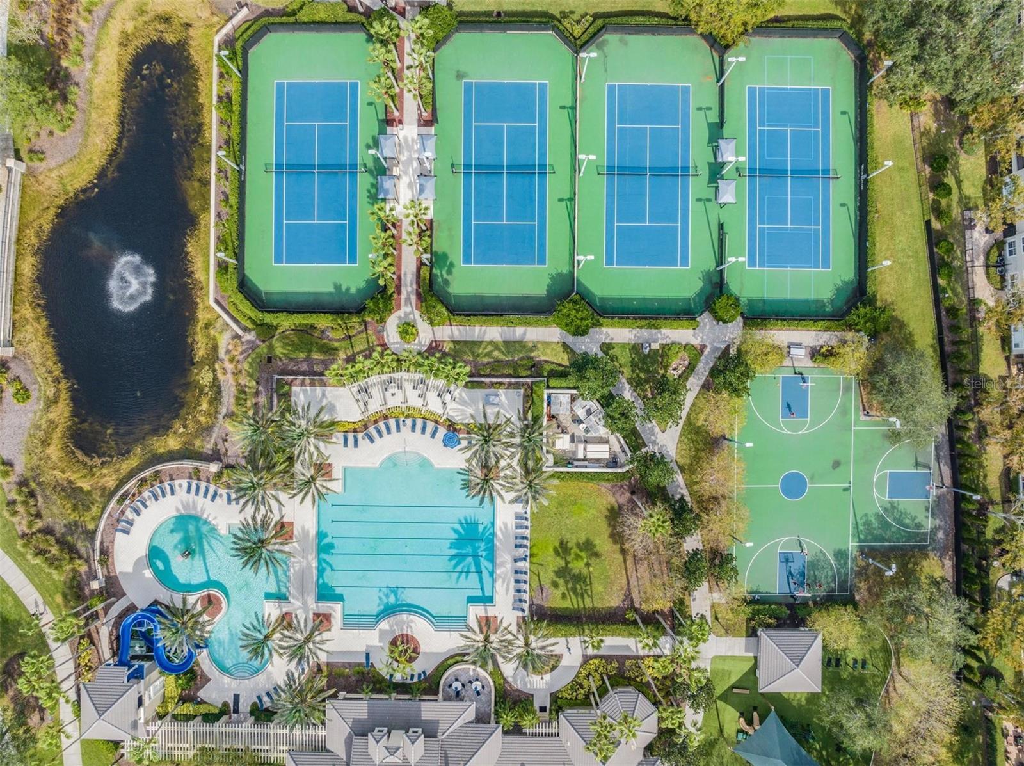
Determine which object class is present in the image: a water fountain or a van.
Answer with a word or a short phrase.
water fountain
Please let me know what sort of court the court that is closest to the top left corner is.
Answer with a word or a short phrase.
tennis court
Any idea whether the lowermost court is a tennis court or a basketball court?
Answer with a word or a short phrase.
basketball court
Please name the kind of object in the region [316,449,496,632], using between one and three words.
swimming pool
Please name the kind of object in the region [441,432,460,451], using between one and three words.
umbrella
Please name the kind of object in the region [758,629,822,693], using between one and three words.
building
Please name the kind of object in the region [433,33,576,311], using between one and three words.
tennis court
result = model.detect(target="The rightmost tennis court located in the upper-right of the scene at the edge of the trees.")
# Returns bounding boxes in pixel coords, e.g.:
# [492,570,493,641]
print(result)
[722,38,860,315]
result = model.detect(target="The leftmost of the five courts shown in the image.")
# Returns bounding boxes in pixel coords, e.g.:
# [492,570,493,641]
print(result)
[244,33,386,308]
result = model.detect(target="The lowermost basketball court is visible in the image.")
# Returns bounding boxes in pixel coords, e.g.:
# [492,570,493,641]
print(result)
[732,368,938,603]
